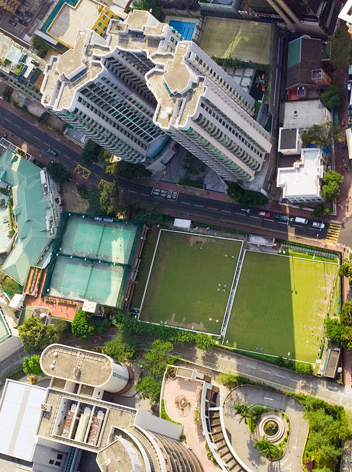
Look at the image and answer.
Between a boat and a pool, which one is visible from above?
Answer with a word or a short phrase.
pool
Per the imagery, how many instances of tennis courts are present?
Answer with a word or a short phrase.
3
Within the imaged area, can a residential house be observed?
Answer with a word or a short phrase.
Yes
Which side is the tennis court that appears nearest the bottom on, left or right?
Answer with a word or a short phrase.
left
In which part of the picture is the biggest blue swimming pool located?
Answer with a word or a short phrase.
top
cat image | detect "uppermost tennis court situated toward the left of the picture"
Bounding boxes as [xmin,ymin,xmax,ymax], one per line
[54,213,137,266]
